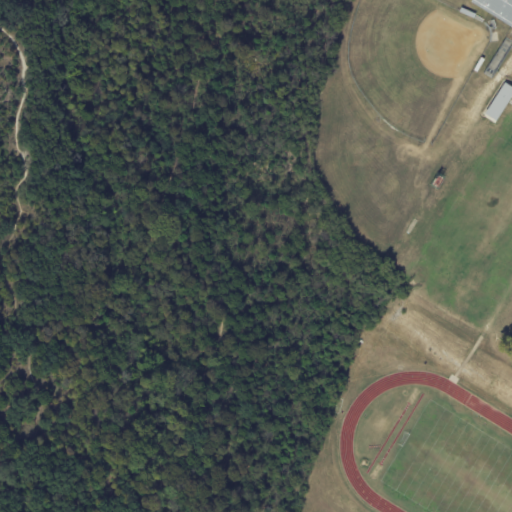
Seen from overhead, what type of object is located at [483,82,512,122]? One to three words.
shed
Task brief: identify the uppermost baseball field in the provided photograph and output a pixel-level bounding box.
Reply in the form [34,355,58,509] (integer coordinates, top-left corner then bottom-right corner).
[348,0,491,152]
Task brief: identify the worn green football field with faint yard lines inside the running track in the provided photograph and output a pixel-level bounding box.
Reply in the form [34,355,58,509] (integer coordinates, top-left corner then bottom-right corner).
[382,400,512,512]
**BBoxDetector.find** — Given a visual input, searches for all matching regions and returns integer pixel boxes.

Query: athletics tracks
[340,371,512,512]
